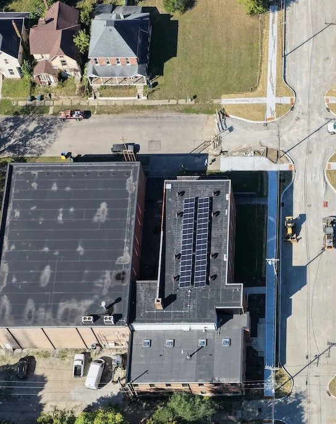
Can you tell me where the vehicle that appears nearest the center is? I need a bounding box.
[107,141,141,156]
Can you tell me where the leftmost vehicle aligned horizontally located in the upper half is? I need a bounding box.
[58,110,87,123]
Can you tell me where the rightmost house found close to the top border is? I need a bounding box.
[86,3,155,88]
